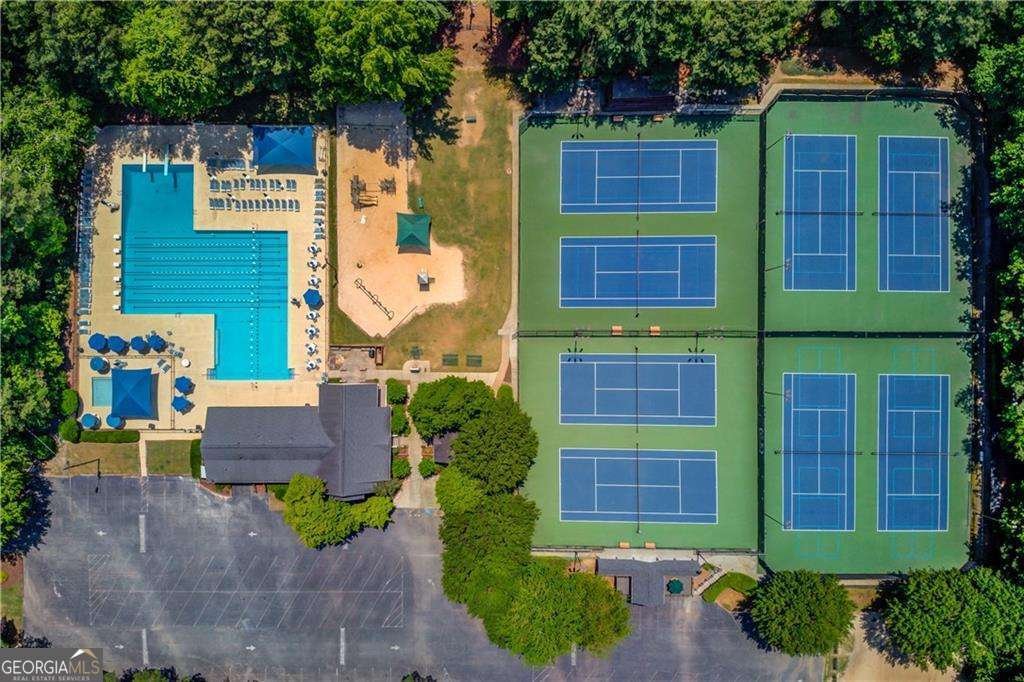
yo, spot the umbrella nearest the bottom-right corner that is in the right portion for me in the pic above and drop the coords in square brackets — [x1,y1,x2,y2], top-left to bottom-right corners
[666,577,683,594]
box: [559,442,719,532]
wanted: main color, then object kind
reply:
blue tennis court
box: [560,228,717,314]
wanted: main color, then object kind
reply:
blue tennis court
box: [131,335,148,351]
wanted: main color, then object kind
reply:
blue umbrella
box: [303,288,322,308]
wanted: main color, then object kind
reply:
blue umbrella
